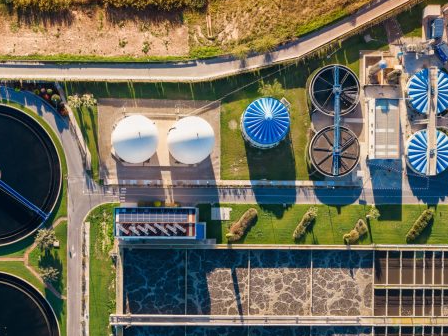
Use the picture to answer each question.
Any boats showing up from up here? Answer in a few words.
No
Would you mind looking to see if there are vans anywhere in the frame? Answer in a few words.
No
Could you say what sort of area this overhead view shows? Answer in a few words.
industrial area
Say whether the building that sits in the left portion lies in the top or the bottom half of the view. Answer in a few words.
bottom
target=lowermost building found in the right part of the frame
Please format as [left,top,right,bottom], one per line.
[364,98,400,161]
